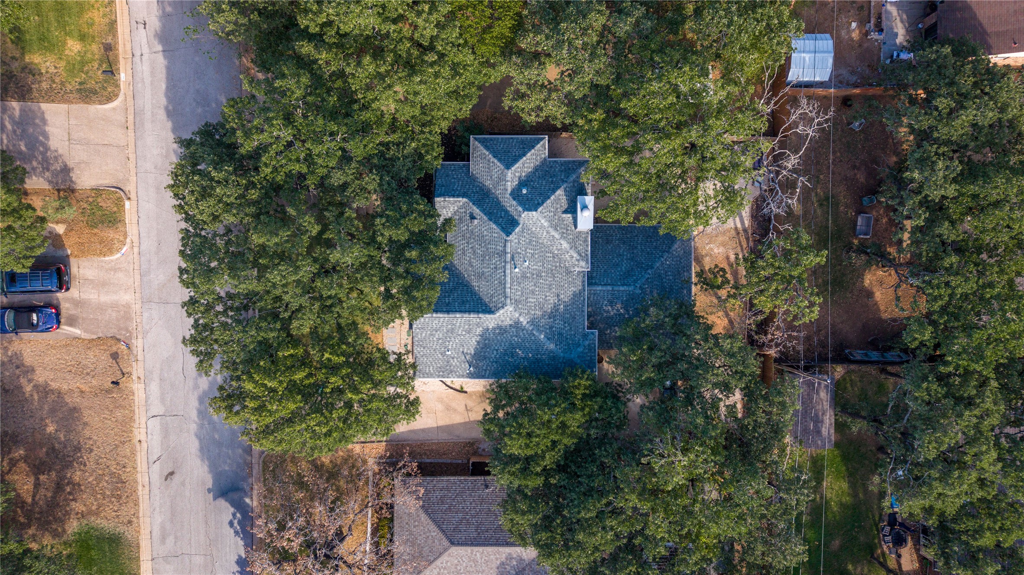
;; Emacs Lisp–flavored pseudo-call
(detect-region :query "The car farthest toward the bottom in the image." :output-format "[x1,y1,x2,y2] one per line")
[0,303,63,336]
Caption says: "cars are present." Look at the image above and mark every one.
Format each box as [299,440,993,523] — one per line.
[0,303,63,336]
[0,264,75,299]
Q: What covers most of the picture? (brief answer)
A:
trees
